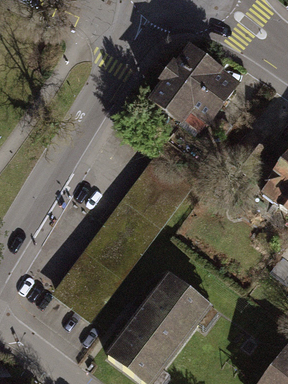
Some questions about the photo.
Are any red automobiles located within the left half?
No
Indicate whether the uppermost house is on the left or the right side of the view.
right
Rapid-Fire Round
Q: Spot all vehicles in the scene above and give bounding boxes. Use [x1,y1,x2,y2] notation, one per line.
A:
[36,290,54,311]
[86,190,103,210]
[63,312,80,332]
[74,183,92,205]
[10,230,26,252]
[208,18,232,34]
[27,283,44,304]
[18,276,36,297]
[82,326,100,348]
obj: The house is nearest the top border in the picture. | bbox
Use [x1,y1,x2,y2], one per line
[148,42,247,140]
